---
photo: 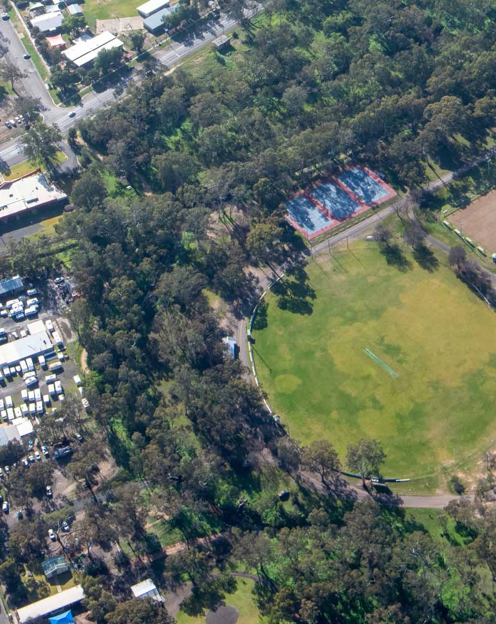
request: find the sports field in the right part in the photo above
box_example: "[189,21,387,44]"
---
[250,242,496,479]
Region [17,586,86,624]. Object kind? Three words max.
building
